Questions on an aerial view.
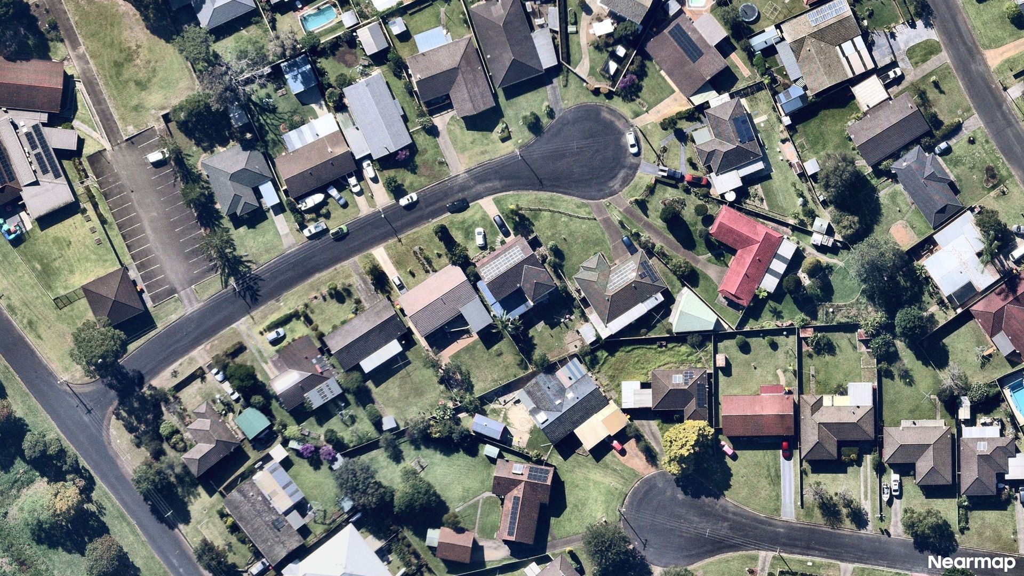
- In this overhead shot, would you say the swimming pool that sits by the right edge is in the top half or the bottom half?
bottom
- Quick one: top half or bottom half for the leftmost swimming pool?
top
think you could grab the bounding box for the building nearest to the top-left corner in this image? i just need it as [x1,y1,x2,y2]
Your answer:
[0,56,64,113]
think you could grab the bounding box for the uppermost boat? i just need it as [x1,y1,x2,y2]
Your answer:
[297,193,327,212]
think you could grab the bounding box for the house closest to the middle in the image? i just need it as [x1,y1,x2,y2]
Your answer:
[475,234,557,318]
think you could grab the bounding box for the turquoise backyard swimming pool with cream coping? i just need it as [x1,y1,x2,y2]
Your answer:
[299,3,342,33]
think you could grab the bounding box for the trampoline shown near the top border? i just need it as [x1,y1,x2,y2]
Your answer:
[740,3,758,21]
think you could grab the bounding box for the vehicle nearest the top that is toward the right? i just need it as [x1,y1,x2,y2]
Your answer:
[879,67,903,84]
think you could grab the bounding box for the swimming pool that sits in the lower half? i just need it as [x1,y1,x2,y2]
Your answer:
[1003,377,1024,426]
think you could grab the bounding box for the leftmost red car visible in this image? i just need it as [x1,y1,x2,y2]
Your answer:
[611,440,625,455]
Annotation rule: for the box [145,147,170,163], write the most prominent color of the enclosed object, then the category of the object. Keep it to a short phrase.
white car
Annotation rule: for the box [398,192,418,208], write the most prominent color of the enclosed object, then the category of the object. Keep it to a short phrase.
white car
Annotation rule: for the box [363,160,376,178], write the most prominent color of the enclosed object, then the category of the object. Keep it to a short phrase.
white vehicle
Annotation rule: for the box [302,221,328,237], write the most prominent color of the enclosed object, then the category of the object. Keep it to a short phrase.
white vehicle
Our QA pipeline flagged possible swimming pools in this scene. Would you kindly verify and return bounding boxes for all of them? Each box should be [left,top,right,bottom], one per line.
[1003,377,1024,426]
[299,3,342,33]
[687,0,713,9]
